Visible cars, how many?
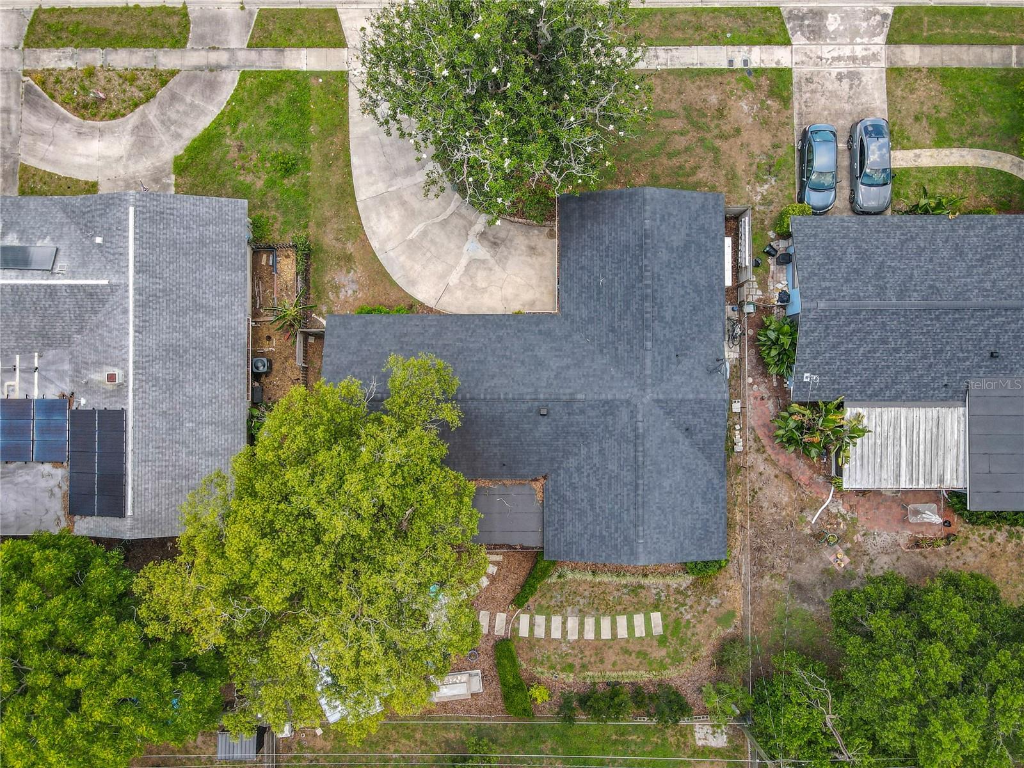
2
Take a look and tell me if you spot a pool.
No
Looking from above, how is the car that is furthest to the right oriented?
from top to bottom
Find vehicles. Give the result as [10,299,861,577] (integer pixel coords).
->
[795,125,841,215]
[845,118,896,216]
